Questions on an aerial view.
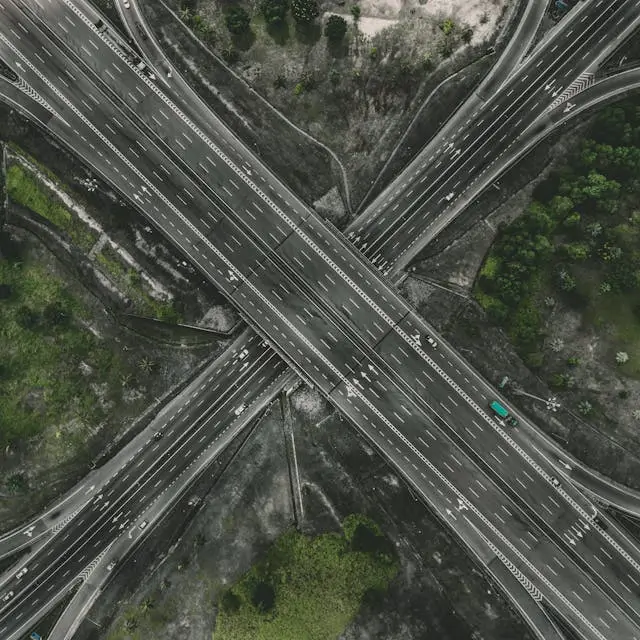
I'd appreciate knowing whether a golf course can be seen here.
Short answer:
No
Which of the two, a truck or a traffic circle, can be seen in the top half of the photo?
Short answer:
truck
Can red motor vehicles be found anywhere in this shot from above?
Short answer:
No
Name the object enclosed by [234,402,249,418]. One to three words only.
vehicle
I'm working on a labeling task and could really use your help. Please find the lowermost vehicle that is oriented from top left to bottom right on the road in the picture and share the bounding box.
[595,518,609,532]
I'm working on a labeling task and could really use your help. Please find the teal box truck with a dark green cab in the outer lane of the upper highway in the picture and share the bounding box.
[488,399,520,428]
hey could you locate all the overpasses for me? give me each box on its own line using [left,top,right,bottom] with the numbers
[227,211,418,397]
